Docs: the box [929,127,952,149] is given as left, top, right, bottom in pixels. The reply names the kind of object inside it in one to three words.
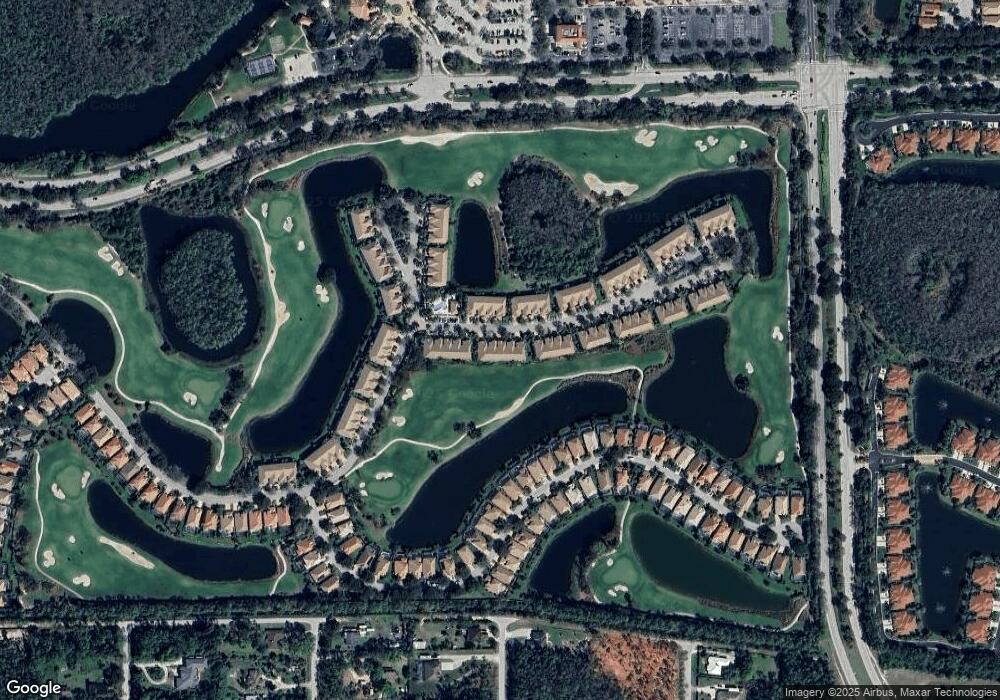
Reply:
house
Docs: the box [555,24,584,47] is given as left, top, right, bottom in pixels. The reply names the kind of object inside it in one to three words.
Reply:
building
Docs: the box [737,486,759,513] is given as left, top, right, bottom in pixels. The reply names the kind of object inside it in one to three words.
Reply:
house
